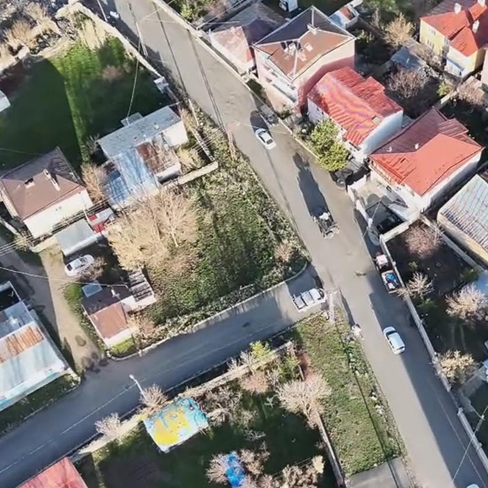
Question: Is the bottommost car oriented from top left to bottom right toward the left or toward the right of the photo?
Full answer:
The bottommost car oriented from top left to bottom right is on the right side of the image.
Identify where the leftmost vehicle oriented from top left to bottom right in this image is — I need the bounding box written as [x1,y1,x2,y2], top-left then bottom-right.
[107,7,122,21]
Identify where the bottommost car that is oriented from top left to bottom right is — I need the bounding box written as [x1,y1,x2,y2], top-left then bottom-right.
[382,327,405,354]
